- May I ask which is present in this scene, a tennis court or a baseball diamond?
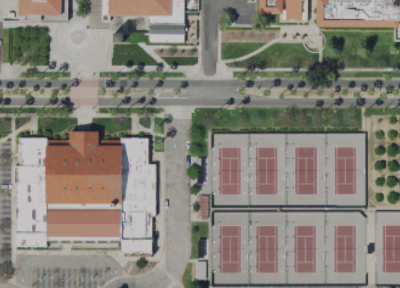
tennis court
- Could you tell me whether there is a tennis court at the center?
Yes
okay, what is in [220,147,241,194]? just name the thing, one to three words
tennis court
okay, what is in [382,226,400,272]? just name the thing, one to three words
tennis court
